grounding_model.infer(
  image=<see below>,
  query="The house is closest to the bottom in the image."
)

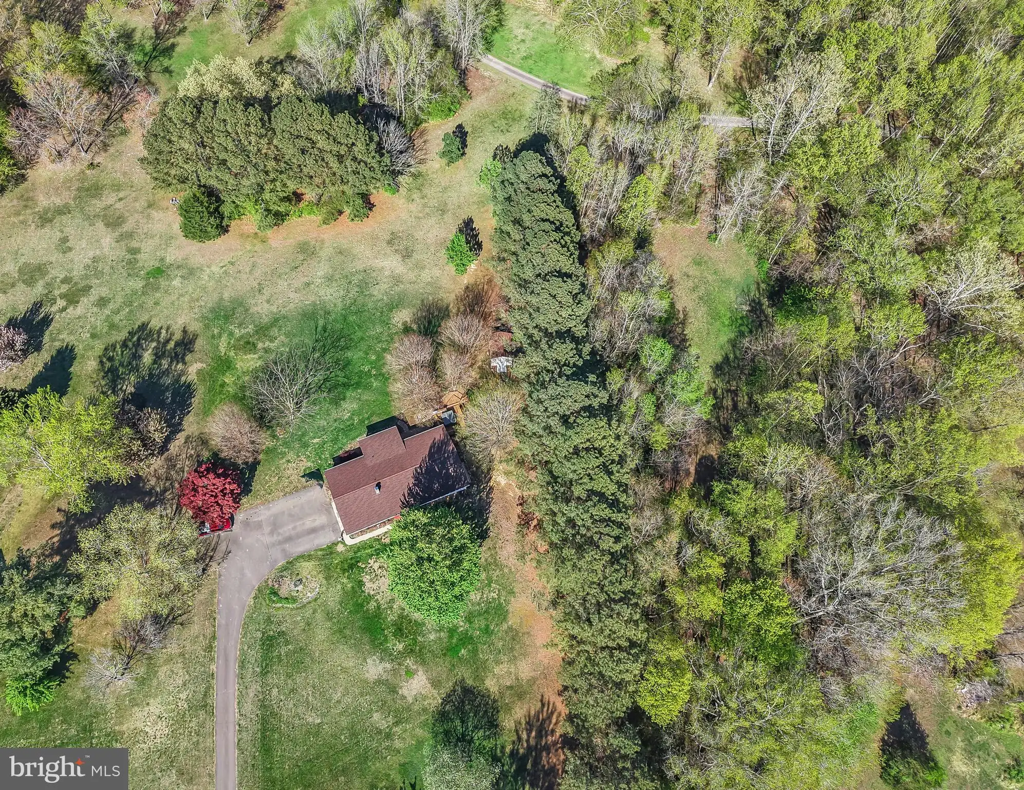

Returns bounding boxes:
[324,424,469,535]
